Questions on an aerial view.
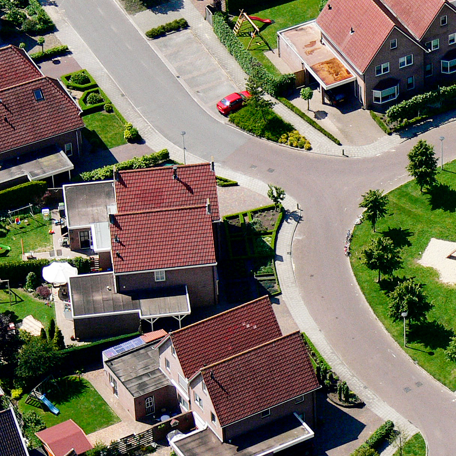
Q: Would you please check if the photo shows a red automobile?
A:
Yes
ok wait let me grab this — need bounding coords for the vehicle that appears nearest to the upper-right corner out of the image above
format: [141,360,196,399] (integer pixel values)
[323,86,350,105]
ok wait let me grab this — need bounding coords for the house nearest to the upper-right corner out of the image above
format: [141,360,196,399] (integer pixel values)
[277,0,456,111]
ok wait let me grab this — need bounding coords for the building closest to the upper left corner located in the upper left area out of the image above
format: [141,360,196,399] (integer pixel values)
[0,30,83,187]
